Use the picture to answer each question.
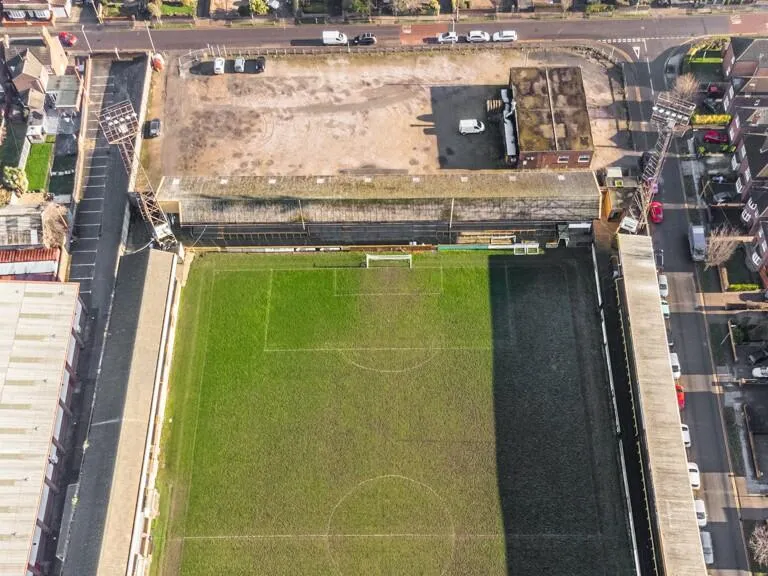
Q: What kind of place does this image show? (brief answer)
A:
sports ground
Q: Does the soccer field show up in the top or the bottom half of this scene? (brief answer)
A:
bottom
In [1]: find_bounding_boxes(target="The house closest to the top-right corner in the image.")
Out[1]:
[723,33,768,88]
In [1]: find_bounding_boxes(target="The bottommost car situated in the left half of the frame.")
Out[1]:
[148,122,160,138]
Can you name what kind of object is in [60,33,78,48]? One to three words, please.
car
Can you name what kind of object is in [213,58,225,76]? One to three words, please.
vehicle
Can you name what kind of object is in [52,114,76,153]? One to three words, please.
shed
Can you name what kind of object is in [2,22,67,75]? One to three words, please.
house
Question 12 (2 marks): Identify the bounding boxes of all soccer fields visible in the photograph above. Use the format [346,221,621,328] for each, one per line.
[147,246,638,576]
